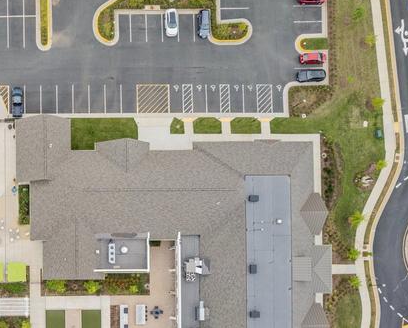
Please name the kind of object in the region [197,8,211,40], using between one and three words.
car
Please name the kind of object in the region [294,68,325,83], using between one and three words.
car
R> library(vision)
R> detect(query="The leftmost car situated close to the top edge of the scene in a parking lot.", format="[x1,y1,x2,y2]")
[164,8,179,39]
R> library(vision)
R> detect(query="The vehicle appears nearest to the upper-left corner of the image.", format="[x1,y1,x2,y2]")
[11,86,24,119]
